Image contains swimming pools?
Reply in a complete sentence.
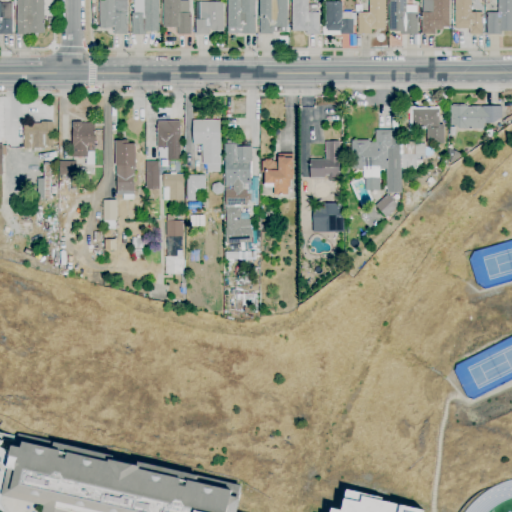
Yes, there's a swimming pool here.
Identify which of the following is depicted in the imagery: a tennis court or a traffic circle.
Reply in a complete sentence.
It is a tennis court that can be seen here.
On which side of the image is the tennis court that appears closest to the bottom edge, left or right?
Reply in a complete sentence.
It is on the right.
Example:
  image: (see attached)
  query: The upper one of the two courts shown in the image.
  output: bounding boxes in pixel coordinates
[470,240,512,288]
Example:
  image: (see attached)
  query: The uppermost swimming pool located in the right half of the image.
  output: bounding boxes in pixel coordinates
[352,178,372,203]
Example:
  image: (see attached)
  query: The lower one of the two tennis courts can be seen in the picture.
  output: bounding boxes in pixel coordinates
[454,334,512,399]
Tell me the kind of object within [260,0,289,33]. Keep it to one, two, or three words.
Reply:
house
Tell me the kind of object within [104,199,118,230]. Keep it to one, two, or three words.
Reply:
barn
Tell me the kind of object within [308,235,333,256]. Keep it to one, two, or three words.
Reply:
swimming pool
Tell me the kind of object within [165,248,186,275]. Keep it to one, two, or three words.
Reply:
shed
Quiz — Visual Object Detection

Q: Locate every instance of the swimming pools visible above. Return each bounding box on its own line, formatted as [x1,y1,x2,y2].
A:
[308,235,333,256]
[352,178,372,203]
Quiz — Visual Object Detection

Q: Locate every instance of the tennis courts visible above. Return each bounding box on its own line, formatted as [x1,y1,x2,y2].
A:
[470,240,512,288]
[454,334,512,399]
